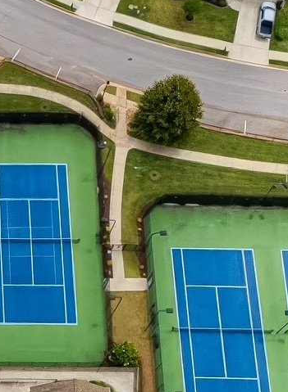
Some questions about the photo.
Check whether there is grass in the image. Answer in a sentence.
Yes, there's grass in this view.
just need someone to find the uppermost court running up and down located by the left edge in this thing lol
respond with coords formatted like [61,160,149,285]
[0,124,105,355]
